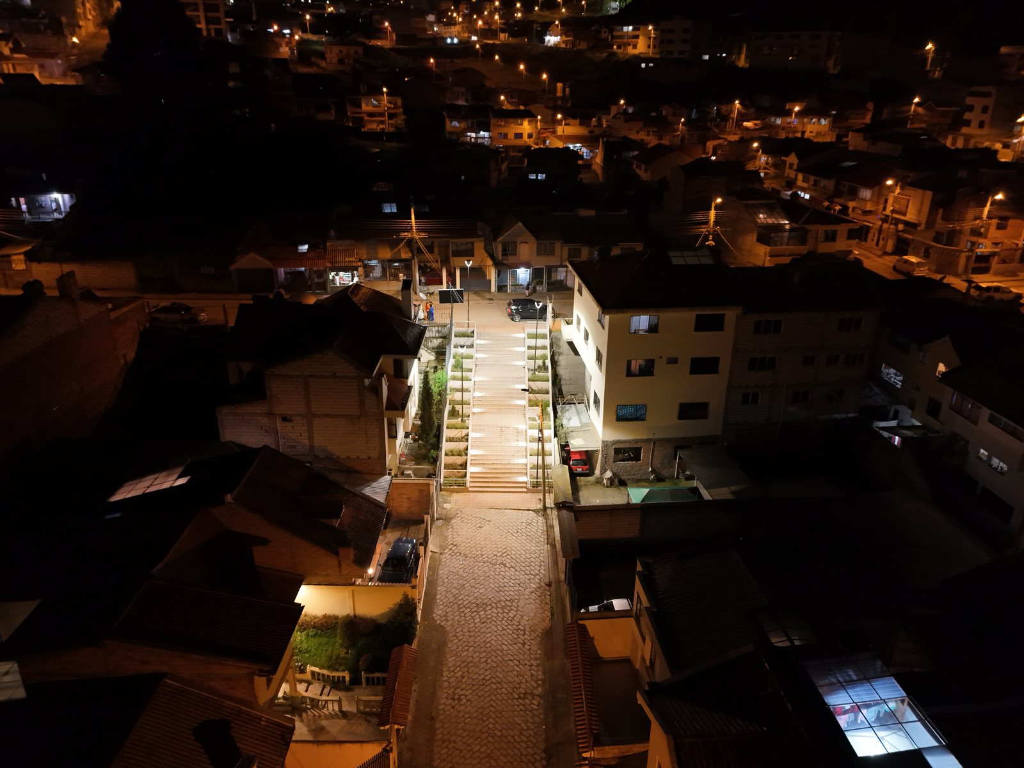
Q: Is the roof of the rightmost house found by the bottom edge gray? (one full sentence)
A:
No, the roof of the rightmost house found by the bottom edge is actually black.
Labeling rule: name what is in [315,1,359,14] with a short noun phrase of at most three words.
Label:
house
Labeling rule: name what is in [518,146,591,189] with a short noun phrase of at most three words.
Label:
house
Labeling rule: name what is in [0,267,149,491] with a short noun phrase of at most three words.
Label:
building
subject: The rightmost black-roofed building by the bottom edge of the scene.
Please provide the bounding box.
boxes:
[764,577,1024,768]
